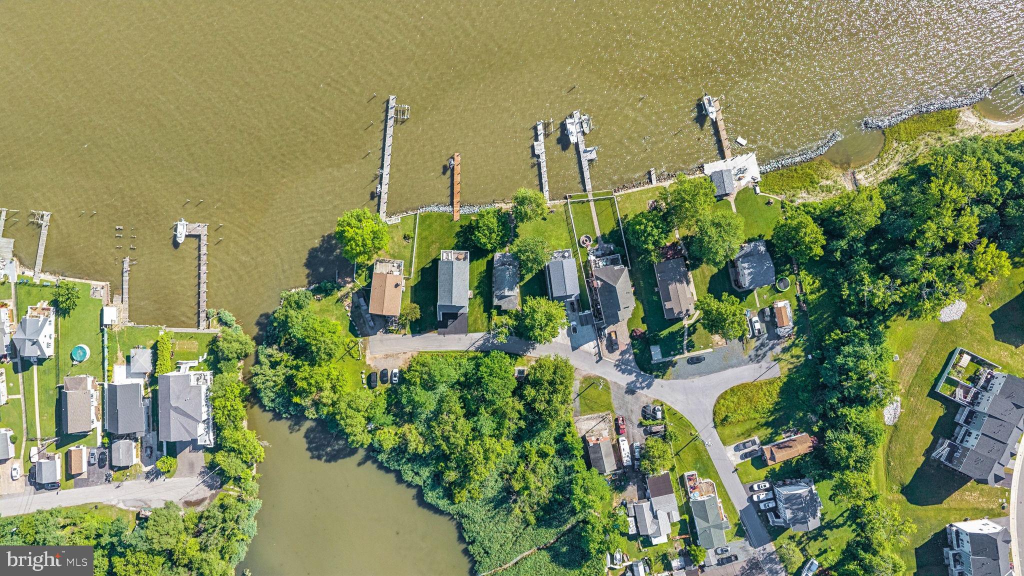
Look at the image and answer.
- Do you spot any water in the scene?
Yes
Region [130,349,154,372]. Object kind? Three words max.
gazebo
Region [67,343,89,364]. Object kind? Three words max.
swimming pool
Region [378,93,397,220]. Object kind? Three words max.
pier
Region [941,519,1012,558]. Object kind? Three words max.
house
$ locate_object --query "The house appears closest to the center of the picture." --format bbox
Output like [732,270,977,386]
[493,254,518,309]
